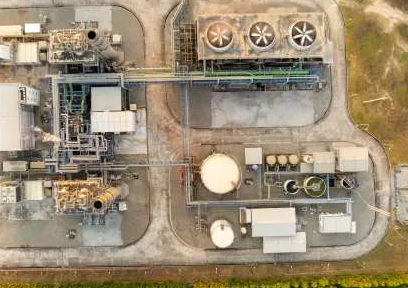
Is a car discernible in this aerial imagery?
No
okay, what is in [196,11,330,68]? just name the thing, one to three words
cooling tower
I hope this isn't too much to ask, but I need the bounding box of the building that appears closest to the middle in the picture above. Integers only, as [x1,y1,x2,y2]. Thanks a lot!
[243,145,263,166]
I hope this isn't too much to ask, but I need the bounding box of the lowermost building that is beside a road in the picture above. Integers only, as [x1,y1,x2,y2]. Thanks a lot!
[262,229,307,254]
